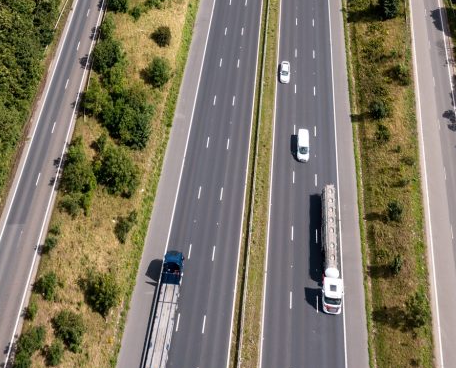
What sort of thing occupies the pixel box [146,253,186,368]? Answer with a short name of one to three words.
truck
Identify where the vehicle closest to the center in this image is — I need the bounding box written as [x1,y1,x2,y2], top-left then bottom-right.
[296,130,308,162]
